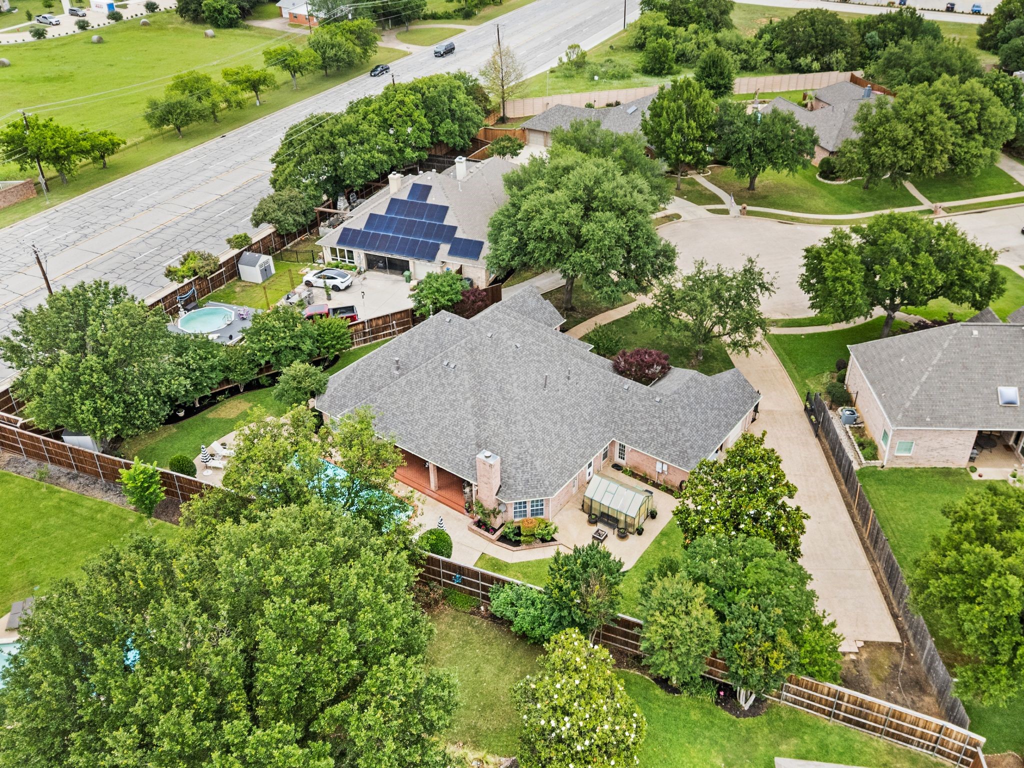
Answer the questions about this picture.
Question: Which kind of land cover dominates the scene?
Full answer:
What you mostly see from above here is trees.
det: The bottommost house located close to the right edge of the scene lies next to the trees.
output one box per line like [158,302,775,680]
[849,310,1024,457]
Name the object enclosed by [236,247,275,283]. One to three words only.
shed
